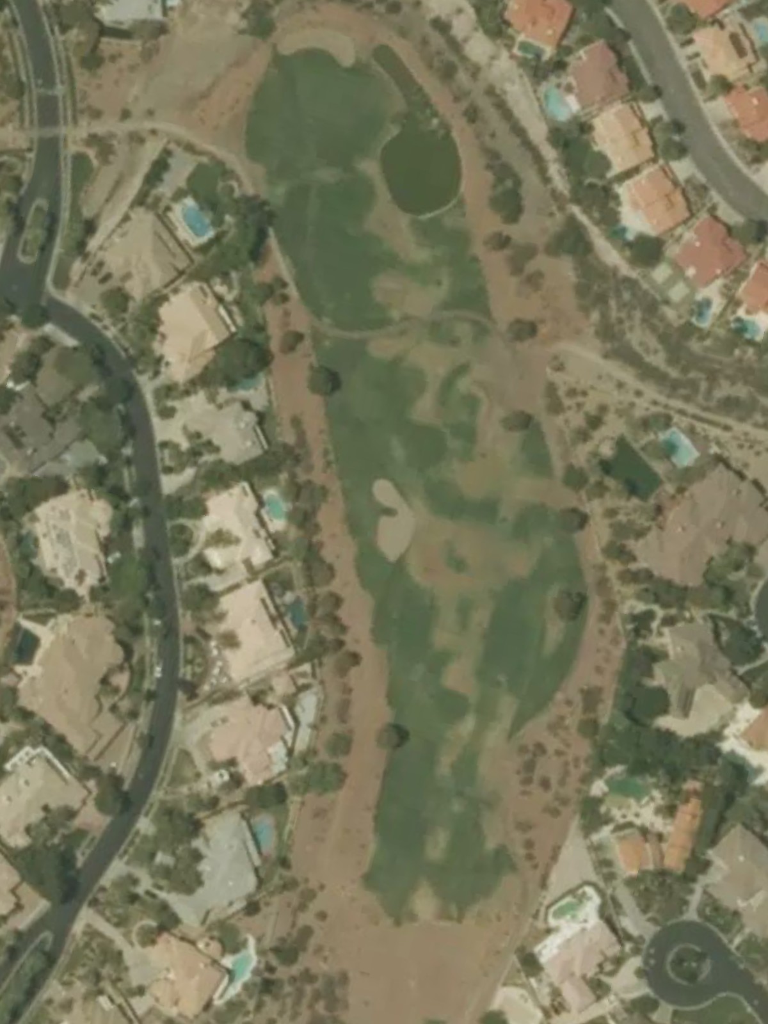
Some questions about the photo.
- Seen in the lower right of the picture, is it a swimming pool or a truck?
swimming pool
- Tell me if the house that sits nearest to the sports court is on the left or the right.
right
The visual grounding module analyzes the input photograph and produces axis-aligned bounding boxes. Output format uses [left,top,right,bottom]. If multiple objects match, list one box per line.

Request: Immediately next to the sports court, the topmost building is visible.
[637,464,768,590]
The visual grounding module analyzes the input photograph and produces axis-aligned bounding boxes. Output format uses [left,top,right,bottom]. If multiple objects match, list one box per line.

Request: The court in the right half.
[605,432,663,503]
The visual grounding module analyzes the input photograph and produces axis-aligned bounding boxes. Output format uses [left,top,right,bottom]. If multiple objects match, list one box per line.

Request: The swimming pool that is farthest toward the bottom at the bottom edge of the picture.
[218,934,257,1003]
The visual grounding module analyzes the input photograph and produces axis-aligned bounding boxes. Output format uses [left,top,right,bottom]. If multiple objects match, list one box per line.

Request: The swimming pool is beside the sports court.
[658,427,701,469]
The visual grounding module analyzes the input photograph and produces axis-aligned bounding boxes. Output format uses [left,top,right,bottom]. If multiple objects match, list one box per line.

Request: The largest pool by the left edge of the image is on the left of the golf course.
[12,627,41,663]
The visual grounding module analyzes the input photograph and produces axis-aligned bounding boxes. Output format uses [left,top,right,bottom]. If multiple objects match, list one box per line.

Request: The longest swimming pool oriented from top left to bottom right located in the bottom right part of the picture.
[590,773,673,835]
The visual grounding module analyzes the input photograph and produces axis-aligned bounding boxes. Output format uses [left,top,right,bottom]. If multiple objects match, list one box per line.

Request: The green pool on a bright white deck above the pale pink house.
[533,886,600,964]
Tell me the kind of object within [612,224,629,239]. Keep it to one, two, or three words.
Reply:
swimming pool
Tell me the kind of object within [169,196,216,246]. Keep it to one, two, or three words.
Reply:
swimming pool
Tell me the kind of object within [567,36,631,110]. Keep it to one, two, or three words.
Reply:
house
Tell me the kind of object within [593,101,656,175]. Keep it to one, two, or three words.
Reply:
house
